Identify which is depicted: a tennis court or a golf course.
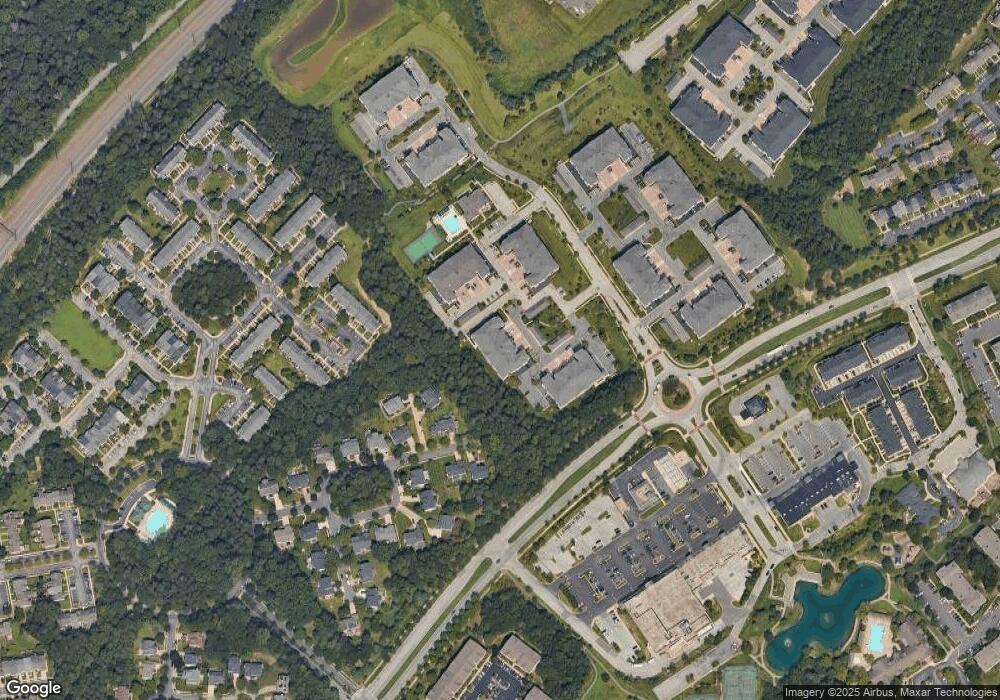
tennis court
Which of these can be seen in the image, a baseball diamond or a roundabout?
roundabout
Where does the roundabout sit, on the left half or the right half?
right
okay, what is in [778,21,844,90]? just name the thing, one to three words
building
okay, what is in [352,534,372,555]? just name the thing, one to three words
house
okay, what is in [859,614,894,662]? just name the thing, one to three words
swimming pool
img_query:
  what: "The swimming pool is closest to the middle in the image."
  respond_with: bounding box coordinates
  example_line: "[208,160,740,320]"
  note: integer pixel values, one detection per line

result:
[433,206,468,242]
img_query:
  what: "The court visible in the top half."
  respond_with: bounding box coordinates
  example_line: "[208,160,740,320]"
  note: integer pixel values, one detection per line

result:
[403,229,442,264]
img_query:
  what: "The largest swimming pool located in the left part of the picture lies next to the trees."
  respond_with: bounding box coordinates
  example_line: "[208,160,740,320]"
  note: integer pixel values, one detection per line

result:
[135,497,176,545]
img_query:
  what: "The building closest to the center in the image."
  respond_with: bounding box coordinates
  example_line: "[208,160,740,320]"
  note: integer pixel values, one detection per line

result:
[469,312,530,380]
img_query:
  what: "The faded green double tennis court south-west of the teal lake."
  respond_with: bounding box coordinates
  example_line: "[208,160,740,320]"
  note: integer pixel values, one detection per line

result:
[722,667,757,700]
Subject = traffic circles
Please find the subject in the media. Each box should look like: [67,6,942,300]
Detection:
[642,359,714,425]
